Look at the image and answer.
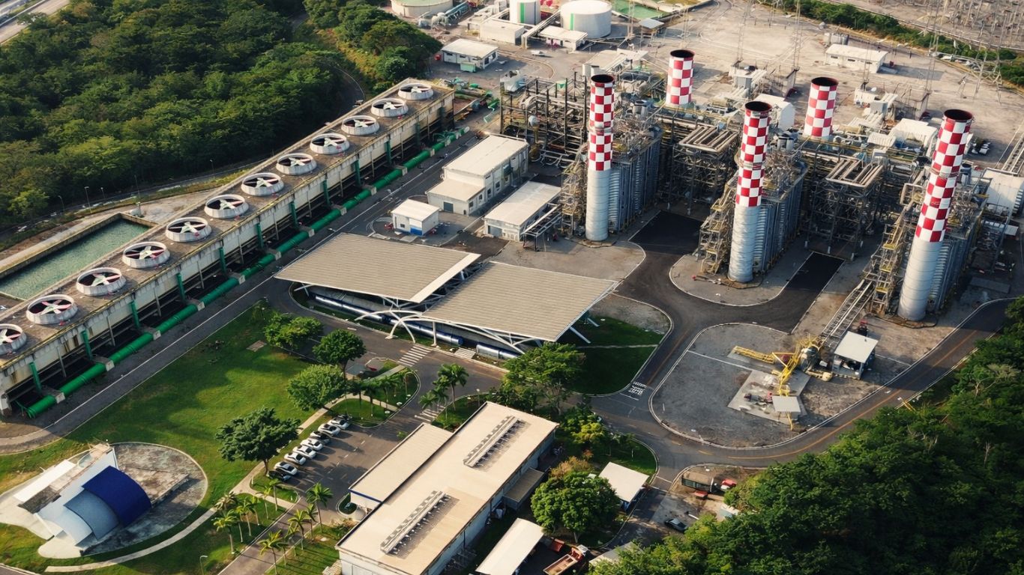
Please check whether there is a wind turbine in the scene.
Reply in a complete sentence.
Yes, this view includes a wind turbine.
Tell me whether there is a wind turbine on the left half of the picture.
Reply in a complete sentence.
No, there's no wind turbine to be seen on the left half of the picture.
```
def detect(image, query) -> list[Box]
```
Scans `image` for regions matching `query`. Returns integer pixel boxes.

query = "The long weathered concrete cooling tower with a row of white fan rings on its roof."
[0,83,463,423]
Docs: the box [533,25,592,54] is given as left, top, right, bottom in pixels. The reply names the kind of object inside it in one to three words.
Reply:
building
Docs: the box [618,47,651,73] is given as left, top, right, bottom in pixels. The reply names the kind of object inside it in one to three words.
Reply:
house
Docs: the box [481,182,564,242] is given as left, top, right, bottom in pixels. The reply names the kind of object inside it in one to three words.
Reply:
building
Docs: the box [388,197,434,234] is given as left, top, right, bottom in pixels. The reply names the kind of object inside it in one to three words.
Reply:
shed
